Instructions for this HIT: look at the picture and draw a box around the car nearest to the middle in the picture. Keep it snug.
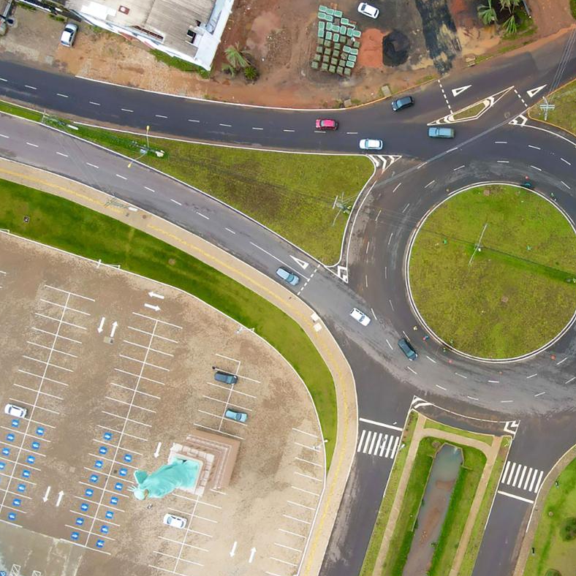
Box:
[274,267,298,284]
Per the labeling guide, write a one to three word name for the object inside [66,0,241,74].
building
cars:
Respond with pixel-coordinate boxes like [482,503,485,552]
[212,371,236,384]
[2,405,26,418]
[274,267,298,284]
[390,95,413,110]
[359,138,381,149]
[163,516,185,528]
[397,337,416,360]
[58,21,75,47]
[356,1,380,18]
[314,118,336,129]
[428,126,453,138]
[347,308,370,325]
